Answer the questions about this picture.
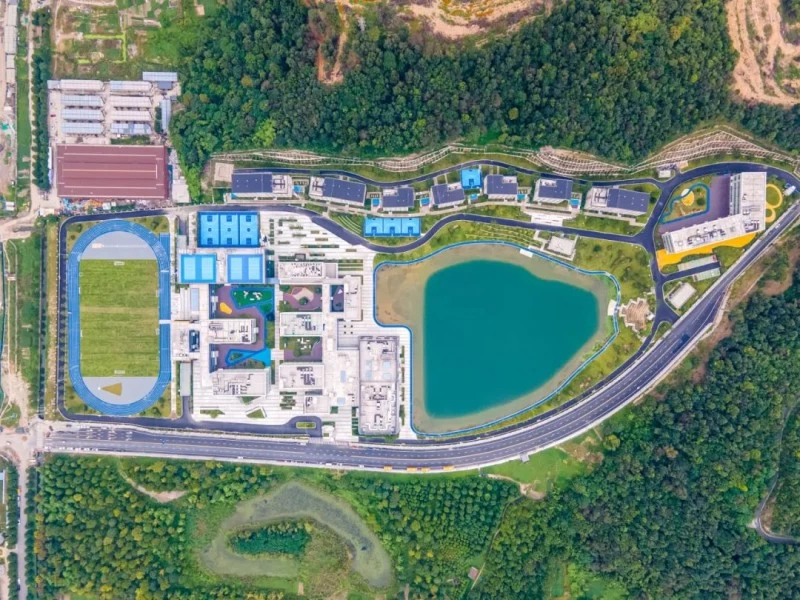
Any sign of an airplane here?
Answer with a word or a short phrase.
No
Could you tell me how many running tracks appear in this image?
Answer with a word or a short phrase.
1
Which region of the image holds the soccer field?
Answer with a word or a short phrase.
left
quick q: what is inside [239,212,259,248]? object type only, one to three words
basketball court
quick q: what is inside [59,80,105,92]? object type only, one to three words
shed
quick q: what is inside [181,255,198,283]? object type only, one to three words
tennis court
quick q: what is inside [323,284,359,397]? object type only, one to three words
building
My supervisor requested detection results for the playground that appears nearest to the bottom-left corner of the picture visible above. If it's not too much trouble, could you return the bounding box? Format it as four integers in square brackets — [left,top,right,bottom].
[214,284,275,370]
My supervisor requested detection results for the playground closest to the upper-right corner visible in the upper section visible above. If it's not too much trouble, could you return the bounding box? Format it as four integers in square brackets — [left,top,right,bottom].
[662,184,710,223]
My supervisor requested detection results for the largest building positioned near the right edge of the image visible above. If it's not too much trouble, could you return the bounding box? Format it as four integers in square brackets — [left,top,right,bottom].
[660,172,767,255]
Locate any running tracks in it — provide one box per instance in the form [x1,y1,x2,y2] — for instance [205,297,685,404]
[67,220,170,416]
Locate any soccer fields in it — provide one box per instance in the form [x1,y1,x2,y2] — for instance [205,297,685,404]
[79,259,159,377]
